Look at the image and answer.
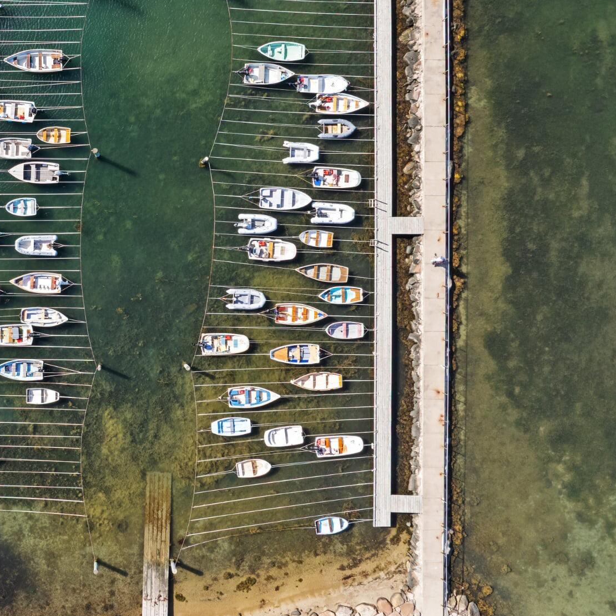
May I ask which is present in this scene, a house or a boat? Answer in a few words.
boat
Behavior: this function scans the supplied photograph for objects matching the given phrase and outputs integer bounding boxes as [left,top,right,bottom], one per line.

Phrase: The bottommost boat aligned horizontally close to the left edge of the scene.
[27,388,60,404]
